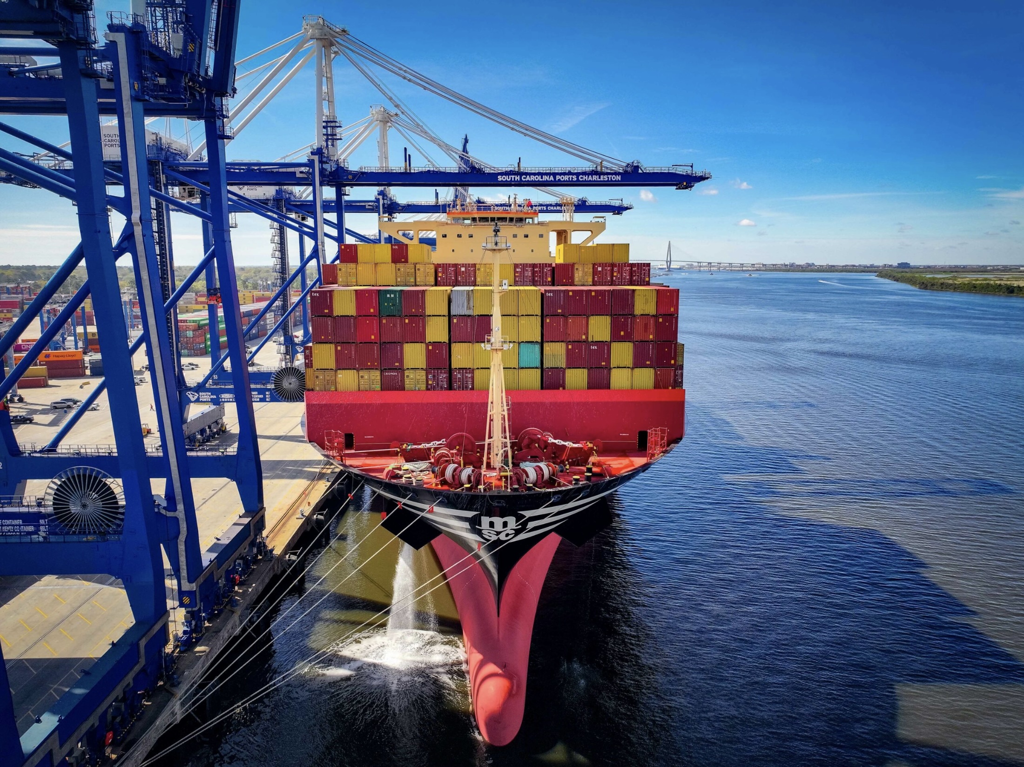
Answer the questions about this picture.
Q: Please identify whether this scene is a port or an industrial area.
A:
port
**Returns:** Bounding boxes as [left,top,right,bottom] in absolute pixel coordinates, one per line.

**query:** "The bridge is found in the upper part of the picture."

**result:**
[626,241,1010,270]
